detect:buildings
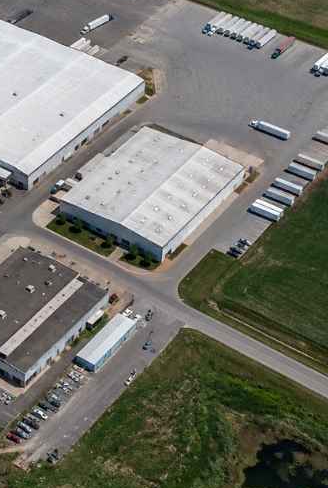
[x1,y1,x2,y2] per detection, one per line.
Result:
[0,19,146,191]
[52,125,247,259]
[73,310,138,374]
[0,244,109,386]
